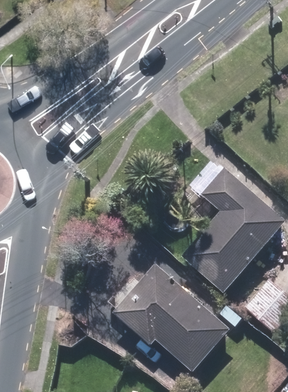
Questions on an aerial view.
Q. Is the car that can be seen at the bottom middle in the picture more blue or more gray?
blue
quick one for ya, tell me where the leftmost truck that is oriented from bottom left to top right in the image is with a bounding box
[8,85,41,112]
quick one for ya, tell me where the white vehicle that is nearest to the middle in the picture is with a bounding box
[68,123,99,154]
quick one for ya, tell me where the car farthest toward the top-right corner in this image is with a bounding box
[134,44,166,70]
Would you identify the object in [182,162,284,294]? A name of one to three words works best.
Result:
house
